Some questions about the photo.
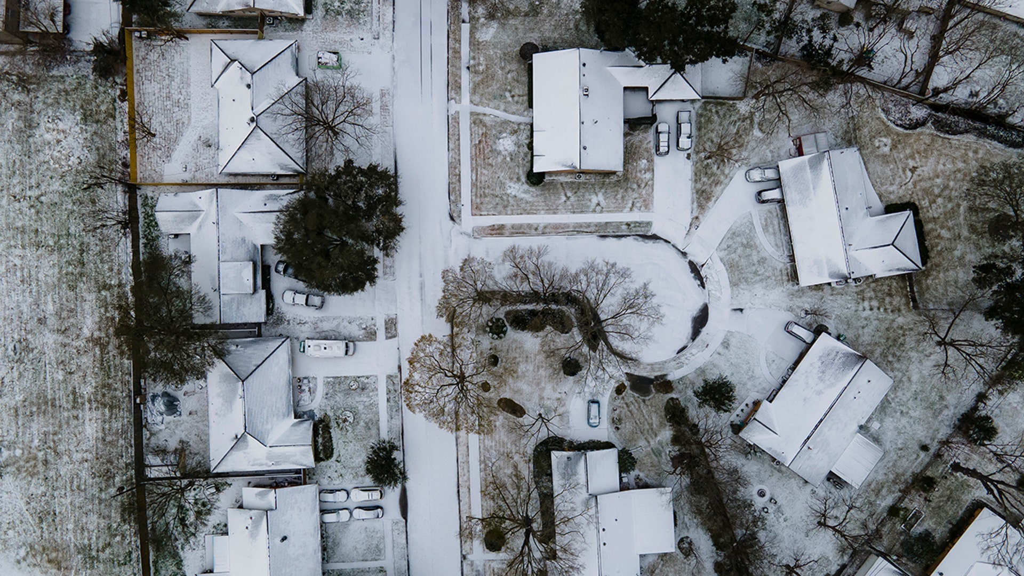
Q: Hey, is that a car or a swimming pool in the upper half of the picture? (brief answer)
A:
car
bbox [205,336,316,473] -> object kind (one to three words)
house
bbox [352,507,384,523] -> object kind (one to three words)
car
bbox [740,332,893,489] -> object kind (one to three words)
house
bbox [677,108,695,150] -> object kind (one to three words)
vehicle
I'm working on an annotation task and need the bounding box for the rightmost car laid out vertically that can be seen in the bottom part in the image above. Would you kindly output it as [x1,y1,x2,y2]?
[587,399,602,430]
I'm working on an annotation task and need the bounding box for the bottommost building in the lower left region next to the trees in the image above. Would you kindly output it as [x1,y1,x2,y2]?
[198,481,325,576]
